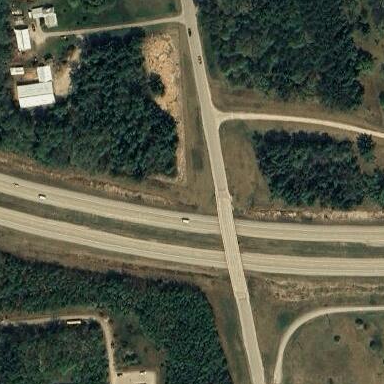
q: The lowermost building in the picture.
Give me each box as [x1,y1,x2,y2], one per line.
[17,81,56,108]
